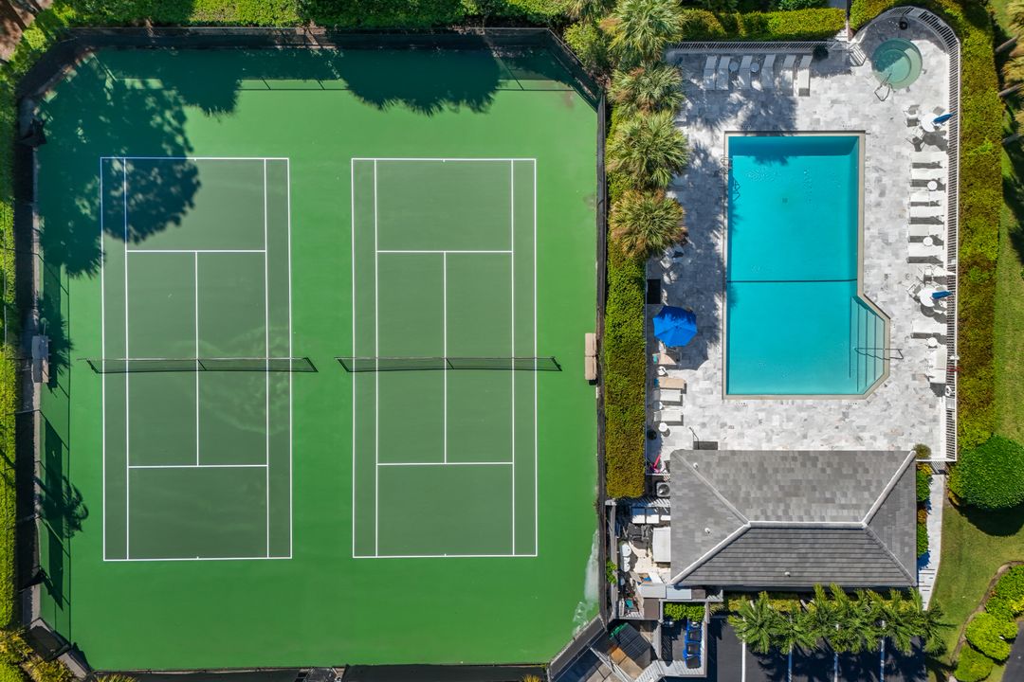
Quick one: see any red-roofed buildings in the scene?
No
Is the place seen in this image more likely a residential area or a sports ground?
sports ground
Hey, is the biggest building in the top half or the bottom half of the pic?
bottom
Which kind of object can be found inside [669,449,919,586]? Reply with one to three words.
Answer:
building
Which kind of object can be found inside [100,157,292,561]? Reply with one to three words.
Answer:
tennis court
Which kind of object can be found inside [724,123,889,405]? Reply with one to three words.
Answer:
swimming pool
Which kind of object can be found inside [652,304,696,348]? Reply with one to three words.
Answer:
umbrella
